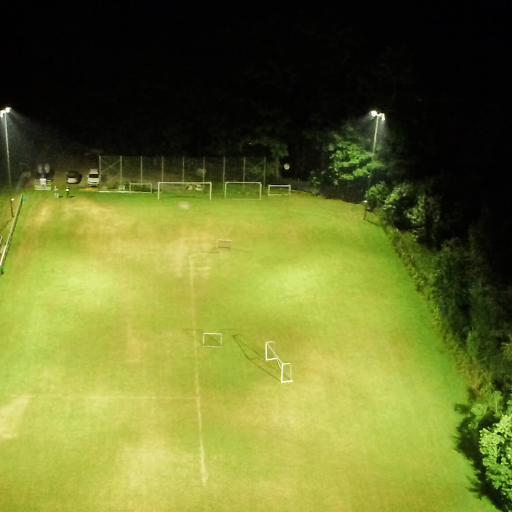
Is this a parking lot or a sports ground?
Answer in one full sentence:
This looks like a sports ground.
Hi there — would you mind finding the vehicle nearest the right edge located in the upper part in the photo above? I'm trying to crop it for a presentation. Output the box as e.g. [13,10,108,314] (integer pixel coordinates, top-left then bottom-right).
[63,165,79,181]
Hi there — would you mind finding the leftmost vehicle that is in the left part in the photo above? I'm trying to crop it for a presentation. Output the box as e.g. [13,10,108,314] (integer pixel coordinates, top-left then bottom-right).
[35,165,52,182]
